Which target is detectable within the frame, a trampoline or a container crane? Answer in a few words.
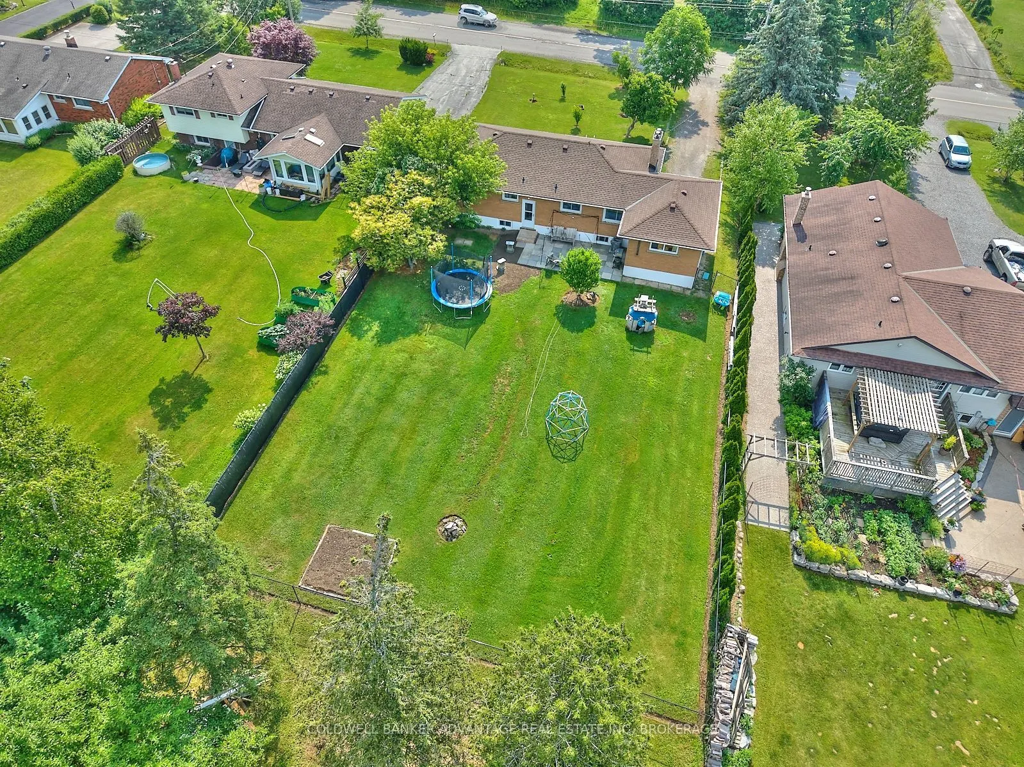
trampoline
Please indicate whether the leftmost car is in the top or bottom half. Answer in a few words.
top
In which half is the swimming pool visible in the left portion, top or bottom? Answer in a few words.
top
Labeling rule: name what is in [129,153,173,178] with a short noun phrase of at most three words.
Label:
swimming pool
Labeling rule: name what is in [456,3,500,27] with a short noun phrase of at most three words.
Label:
car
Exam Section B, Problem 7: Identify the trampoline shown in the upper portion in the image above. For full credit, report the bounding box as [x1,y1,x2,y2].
[427,249,492,322]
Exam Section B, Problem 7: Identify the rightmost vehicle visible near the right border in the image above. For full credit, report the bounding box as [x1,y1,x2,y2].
[975,233,1024,271]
